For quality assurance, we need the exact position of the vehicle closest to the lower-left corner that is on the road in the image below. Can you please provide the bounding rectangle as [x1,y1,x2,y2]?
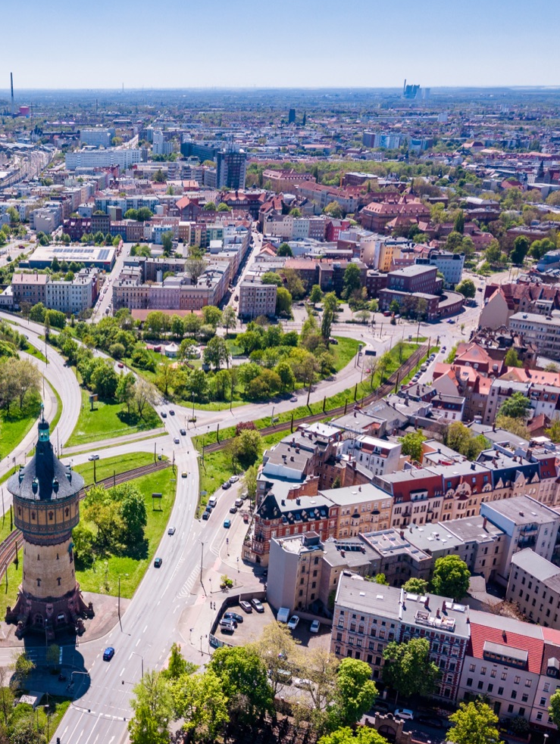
[102,646,115,661]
